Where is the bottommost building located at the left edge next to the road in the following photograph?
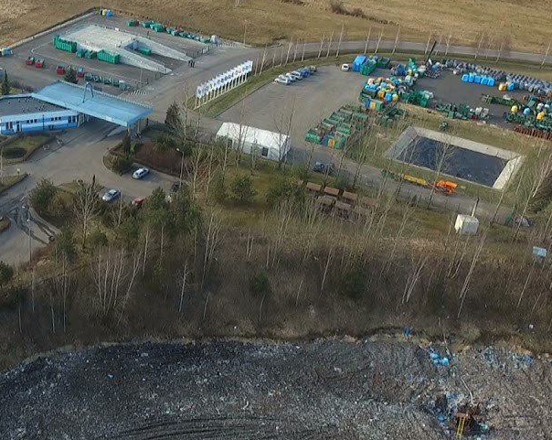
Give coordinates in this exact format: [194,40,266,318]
[0,94,87,135]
